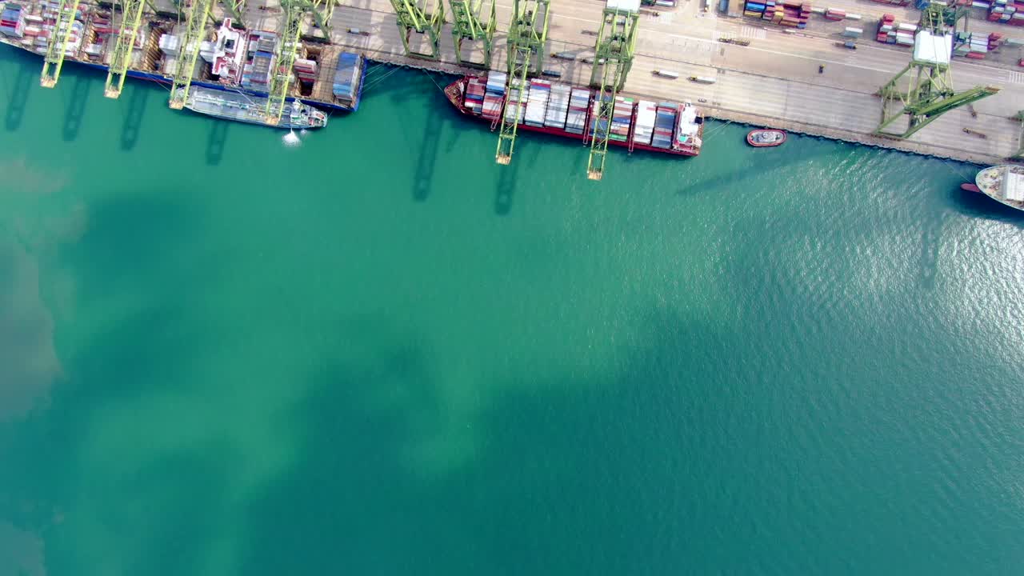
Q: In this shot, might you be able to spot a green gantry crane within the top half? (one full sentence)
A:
Yes, looking within the top half, one can make out a green gantry crane.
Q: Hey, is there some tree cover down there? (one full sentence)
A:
No, the scene doesn't show any tree cover.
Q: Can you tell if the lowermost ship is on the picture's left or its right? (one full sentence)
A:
The lowermost ship sits on the right side.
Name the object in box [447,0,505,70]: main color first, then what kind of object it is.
green container crane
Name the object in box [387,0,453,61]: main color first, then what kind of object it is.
green container crane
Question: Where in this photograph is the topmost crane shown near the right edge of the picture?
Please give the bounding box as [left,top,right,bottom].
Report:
[951,4,985,59]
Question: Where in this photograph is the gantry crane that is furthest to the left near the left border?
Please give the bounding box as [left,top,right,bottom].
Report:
[36,0,142,88]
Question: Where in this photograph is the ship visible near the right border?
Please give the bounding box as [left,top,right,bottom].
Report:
[960,166,1024,214]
